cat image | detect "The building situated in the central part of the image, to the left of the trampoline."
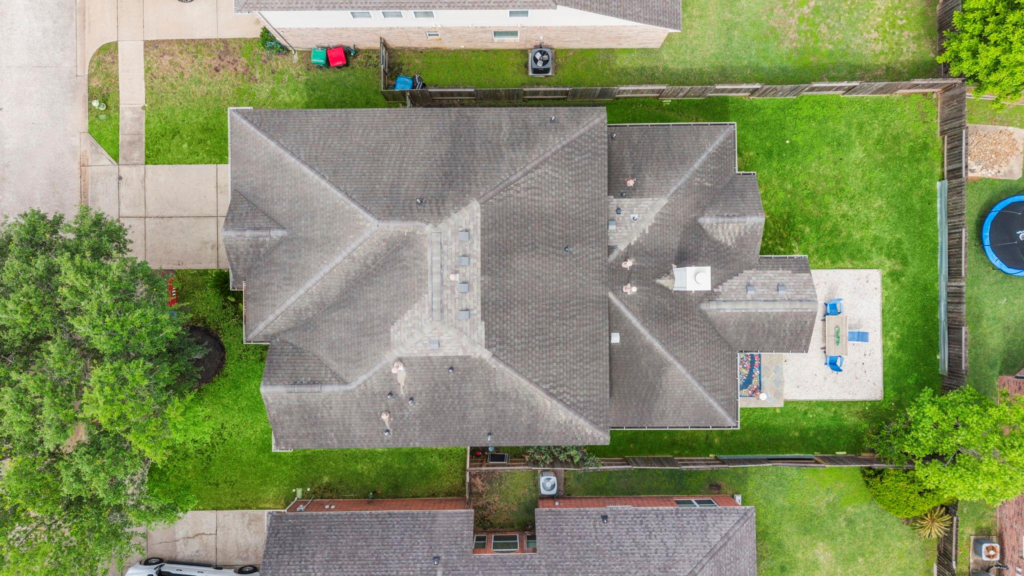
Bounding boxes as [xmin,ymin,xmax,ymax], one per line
[222,104,819,453]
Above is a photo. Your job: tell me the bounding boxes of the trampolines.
[964,192,1024,280]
